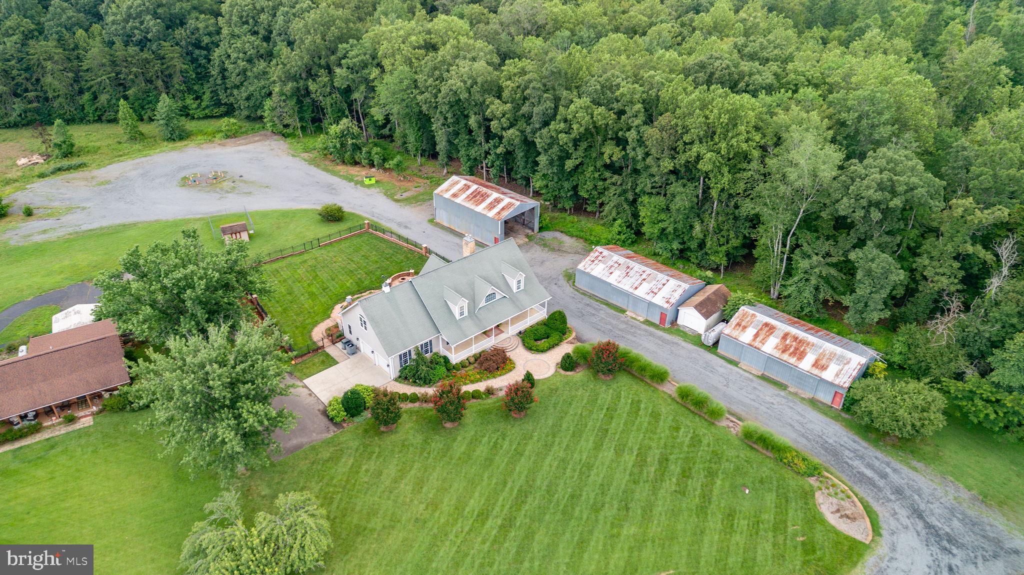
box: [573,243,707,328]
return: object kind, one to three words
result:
shed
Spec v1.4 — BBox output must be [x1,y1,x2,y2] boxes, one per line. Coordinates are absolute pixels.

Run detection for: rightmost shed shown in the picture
[718,301,880,407]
